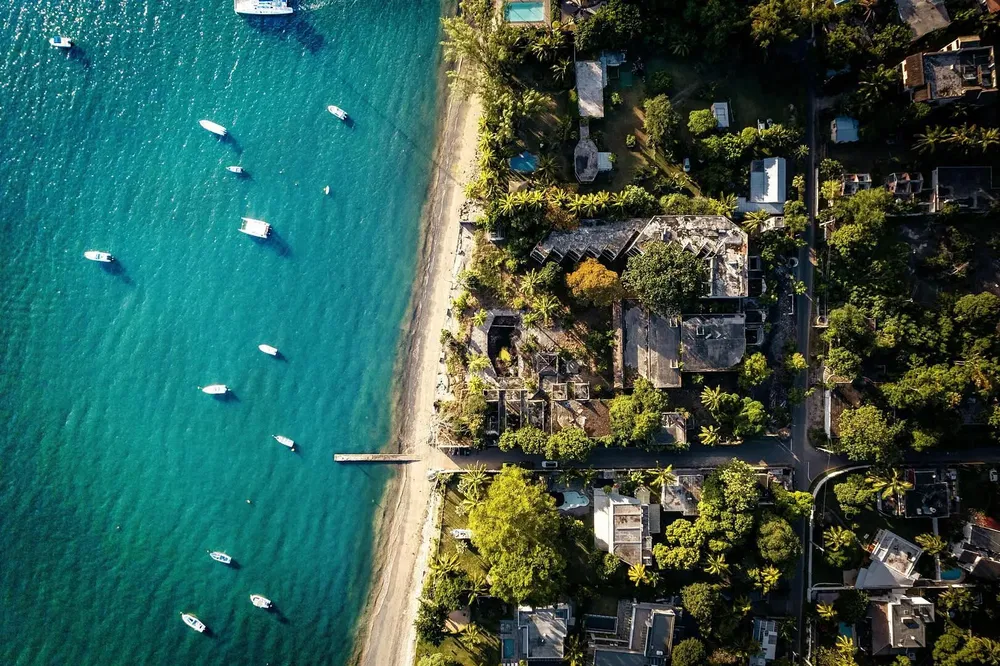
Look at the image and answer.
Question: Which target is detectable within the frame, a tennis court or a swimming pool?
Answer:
swimming pool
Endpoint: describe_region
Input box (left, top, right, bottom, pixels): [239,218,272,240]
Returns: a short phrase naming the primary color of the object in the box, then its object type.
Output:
white boat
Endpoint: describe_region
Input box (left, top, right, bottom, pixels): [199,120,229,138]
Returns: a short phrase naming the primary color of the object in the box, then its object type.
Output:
white boat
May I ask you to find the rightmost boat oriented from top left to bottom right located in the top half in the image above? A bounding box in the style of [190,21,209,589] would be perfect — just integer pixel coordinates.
[328,105,350,121]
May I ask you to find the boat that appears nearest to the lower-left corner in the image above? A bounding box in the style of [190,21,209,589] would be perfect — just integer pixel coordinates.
[182,612,207,634]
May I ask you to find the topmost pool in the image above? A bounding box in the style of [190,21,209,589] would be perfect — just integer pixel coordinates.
[497,0,552,27]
